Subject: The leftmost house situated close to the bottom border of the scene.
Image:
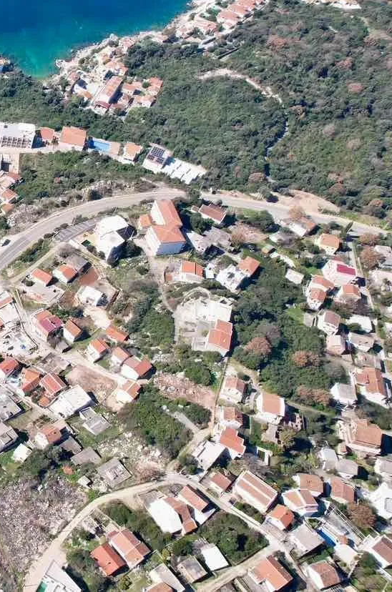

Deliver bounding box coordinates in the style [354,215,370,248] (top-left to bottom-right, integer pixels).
[32,560,80,592]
